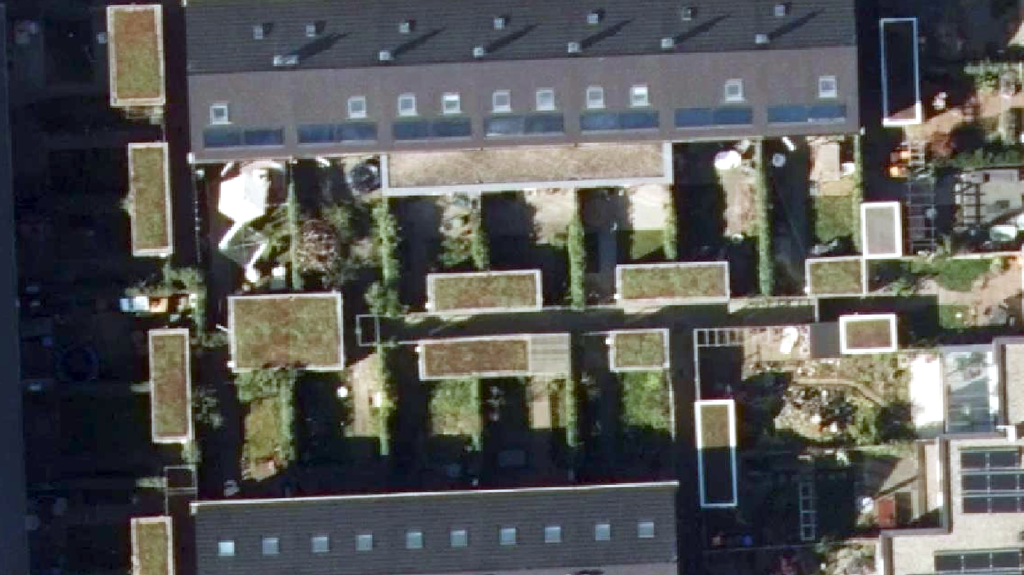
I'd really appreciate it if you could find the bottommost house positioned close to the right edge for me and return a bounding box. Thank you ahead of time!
[876,439,1024,575]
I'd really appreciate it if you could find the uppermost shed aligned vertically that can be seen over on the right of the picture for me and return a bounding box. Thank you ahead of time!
[881,18,921,124]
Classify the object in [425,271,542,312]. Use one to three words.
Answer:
shed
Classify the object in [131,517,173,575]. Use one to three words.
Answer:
shed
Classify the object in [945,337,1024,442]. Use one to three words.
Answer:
house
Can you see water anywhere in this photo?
No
